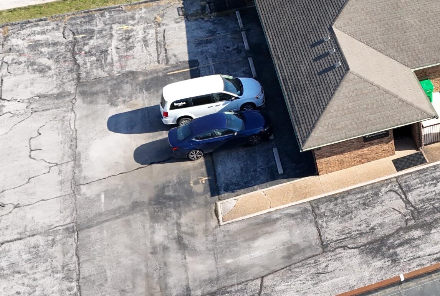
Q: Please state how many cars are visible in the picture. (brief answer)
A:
2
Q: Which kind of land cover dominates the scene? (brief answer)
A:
paved ground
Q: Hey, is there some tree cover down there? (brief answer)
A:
No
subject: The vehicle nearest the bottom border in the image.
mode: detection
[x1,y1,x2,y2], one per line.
[162,106,275,161]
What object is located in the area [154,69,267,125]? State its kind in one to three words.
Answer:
car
